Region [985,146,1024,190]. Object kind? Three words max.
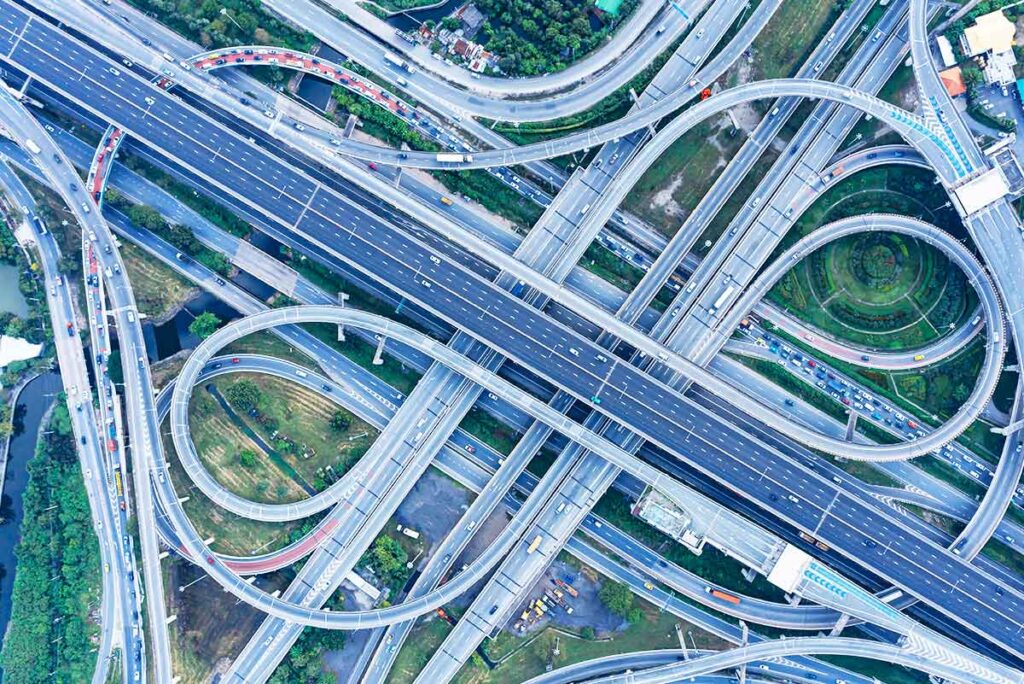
building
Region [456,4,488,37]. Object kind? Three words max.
building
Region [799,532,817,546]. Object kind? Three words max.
vehicle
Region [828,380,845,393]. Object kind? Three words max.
vehicle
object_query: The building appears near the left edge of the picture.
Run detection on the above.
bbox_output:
[0,335,48,368]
